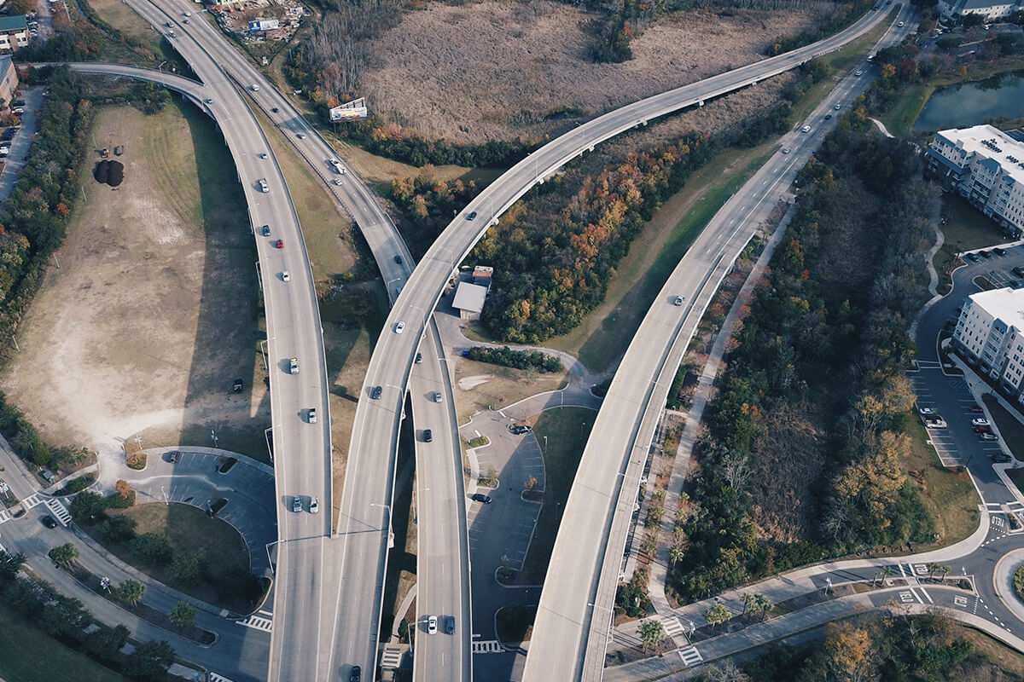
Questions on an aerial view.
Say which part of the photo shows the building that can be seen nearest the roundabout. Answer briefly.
right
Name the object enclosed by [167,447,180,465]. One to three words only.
vehicle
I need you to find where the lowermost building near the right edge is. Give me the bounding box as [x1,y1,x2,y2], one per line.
[946,286,1024,420]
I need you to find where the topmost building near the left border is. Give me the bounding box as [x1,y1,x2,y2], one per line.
[0,12,34,48]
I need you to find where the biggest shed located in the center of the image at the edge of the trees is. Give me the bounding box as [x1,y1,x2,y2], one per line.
[453,283,487,323]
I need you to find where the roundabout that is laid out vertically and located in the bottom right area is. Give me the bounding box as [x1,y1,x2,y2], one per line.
[993,548,1024,622]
